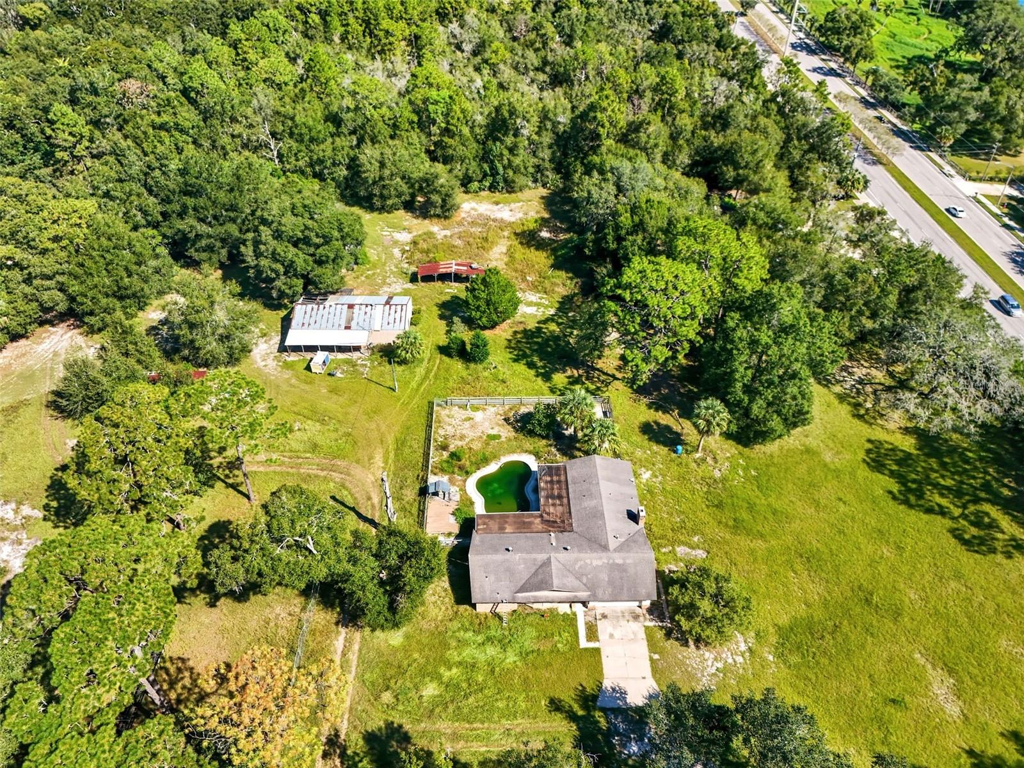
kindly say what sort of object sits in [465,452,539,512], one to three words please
swimming pool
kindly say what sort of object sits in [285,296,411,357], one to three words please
barn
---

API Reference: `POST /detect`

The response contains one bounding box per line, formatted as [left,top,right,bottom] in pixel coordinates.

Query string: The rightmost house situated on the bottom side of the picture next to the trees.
[469,454,657,616]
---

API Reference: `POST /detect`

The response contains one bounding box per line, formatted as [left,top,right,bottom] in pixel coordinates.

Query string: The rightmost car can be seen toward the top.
[947,203,968,218]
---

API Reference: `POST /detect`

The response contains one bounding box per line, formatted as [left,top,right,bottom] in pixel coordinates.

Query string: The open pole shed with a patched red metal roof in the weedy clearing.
[418,261,486,286]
